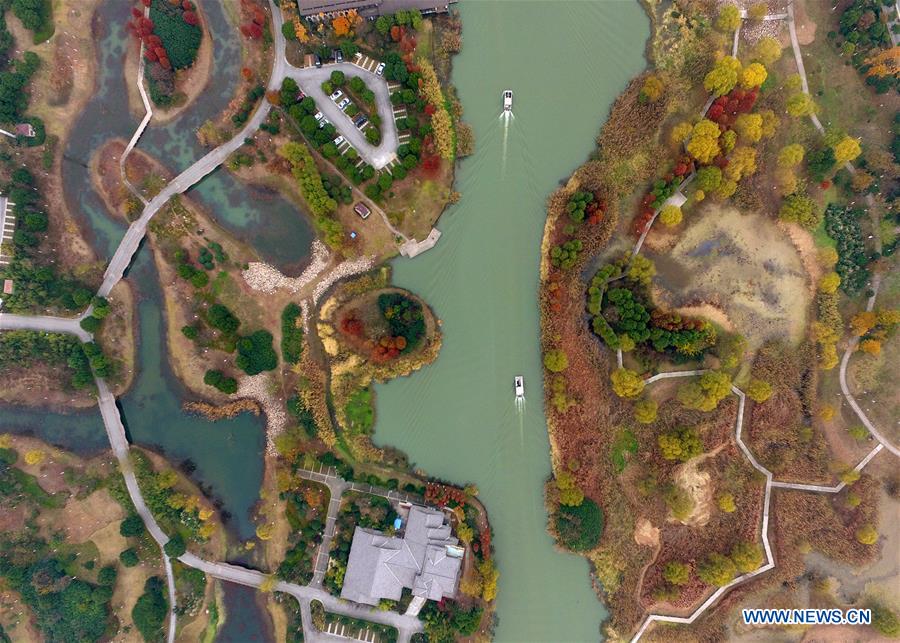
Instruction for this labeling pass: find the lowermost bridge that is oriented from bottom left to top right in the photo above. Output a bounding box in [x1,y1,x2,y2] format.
[98,220,150,288]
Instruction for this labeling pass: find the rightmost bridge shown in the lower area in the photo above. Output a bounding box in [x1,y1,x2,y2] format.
[178,549,272,590]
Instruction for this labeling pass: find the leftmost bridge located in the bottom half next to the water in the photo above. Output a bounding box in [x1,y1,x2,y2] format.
[96,389,132,458]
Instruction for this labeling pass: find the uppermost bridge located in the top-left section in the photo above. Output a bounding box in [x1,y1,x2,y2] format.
[166,143,231,197]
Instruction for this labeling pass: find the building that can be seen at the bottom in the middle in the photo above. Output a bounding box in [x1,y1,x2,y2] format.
[340,503,468,611]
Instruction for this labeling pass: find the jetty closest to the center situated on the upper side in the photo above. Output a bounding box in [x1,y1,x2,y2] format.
[400,228,441,258]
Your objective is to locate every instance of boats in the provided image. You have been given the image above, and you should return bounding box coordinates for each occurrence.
[503,90,512,112]
[515,375,524,394]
